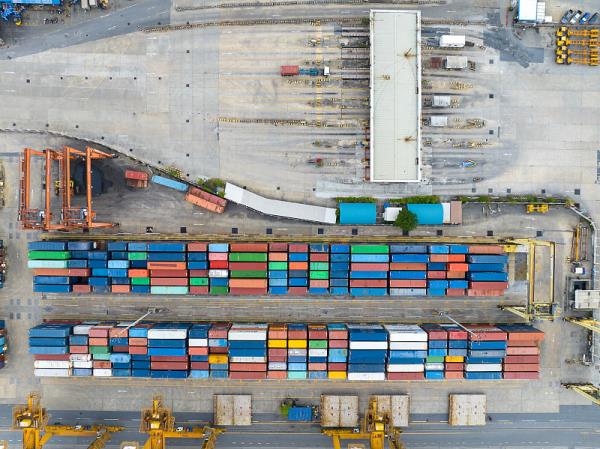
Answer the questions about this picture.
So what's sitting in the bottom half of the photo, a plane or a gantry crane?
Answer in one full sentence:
It is a gantry crane that can be seen in the bottom half of the photo.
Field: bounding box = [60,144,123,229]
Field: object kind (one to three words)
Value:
container crane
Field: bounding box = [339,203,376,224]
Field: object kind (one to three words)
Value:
shed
